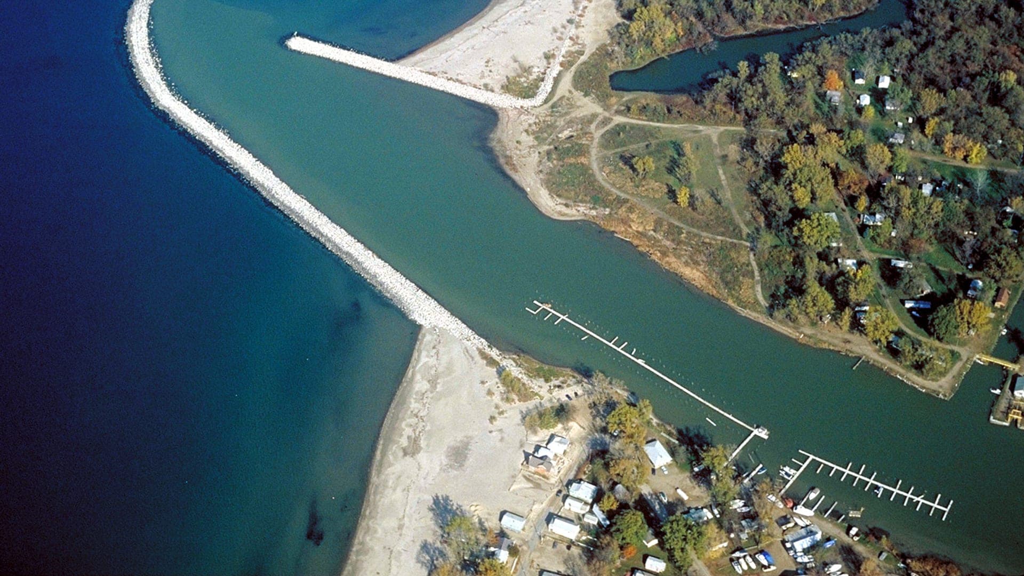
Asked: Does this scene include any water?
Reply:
Yes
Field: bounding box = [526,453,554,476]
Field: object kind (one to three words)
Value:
house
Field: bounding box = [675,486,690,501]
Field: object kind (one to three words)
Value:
vehicle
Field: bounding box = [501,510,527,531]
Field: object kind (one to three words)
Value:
house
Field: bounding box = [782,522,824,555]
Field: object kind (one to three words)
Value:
shed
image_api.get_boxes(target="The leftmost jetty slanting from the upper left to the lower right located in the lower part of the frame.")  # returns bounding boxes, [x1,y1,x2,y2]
[526,300,768,463]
